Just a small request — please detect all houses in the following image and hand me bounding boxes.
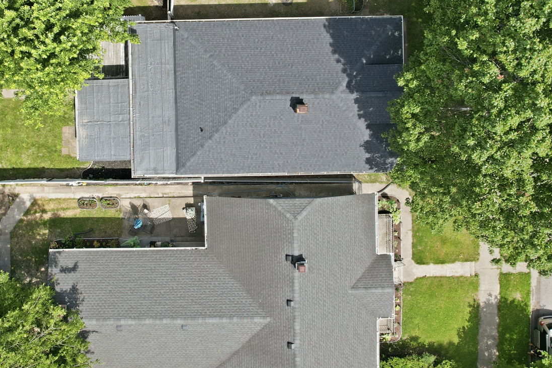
[38,193,406,368]
[77,14,406,178]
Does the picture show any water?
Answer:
No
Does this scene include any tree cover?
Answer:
Yes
